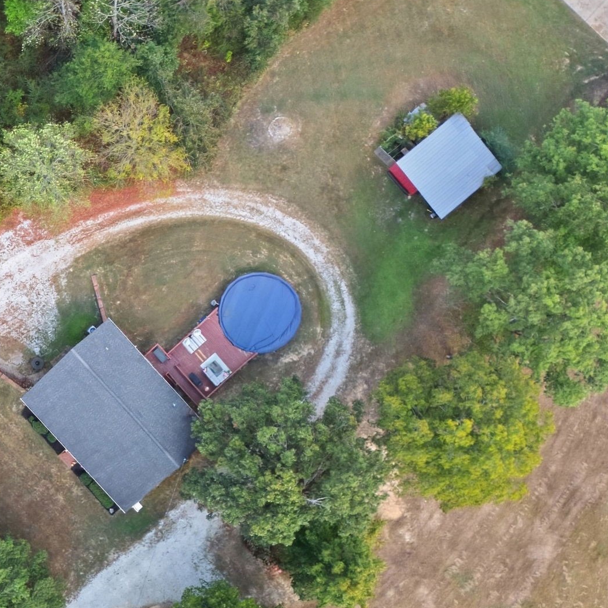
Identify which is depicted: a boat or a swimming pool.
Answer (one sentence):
Of the two, only a swimming pool appears.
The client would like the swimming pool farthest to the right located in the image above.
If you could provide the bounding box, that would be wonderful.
[218,272,302,355]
